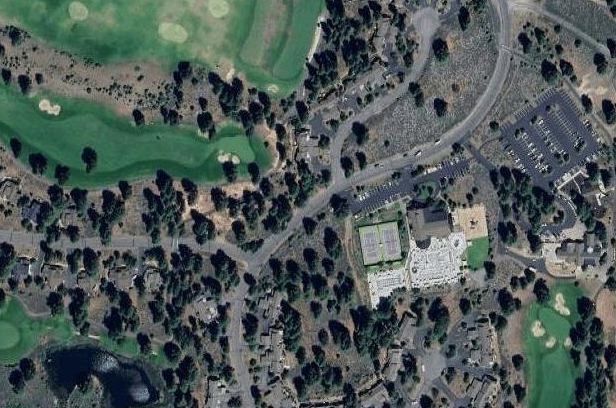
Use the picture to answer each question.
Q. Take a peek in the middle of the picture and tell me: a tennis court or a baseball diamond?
tennis court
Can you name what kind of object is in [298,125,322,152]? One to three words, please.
building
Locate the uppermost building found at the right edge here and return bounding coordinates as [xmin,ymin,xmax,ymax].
[575,178,603,201]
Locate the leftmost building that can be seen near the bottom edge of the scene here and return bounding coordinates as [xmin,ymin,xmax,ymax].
[208,376,236,407]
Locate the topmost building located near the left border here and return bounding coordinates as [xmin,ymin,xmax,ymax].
[0,177,23,202]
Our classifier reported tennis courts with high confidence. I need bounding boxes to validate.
[378,222,402,263]
[358,224,382,265]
